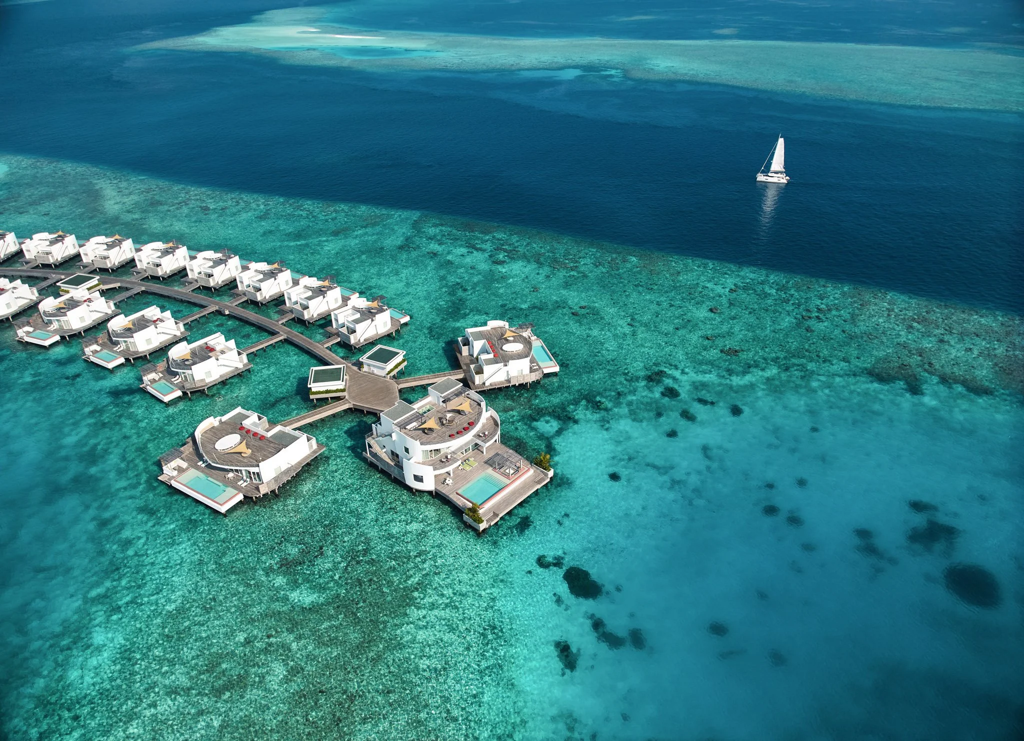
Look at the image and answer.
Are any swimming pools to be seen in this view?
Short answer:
Yes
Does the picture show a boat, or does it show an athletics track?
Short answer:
boat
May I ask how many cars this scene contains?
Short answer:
0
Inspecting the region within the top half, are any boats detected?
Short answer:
Yes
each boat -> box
[755,132,792,184]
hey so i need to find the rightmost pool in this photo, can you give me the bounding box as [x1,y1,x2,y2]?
[530,337,560,374]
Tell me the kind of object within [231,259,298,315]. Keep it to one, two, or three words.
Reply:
house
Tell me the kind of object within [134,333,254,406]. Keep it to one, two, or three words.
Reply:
house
